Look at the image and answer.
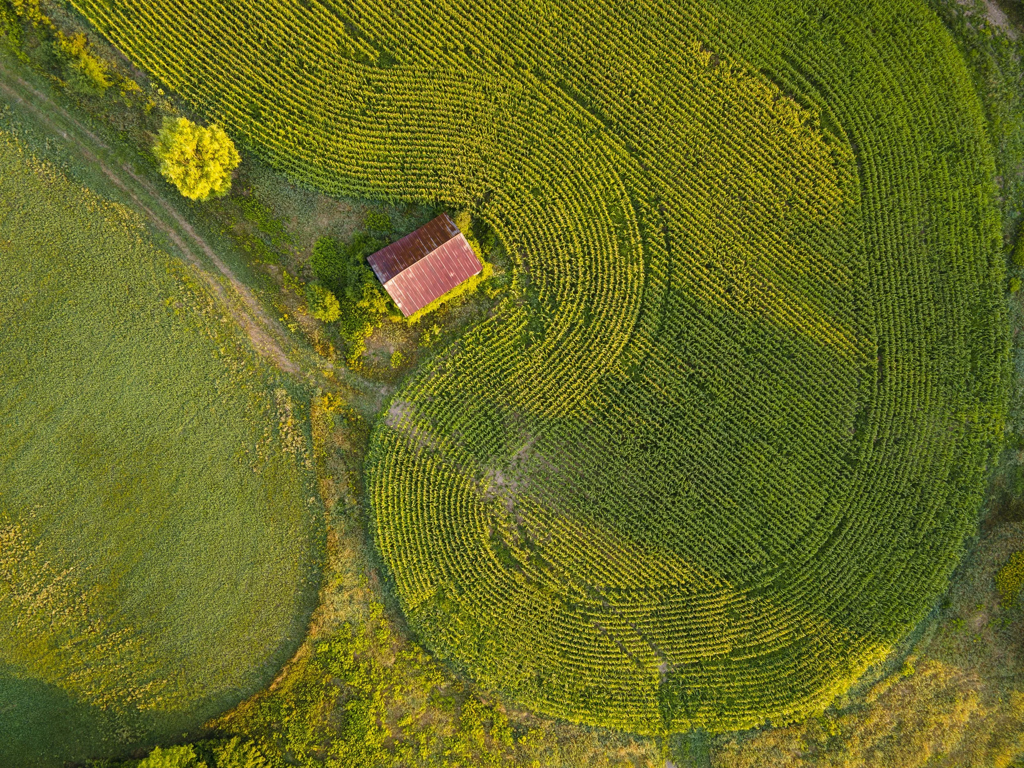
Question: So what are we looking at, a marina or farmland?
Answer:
farmland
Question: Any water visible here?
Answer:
No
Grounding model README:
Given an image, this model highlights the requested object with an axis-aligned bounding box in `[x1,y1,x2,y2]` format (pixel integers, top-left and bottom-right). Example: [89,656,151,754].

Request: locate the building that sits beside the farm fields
[369,210,483,318]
